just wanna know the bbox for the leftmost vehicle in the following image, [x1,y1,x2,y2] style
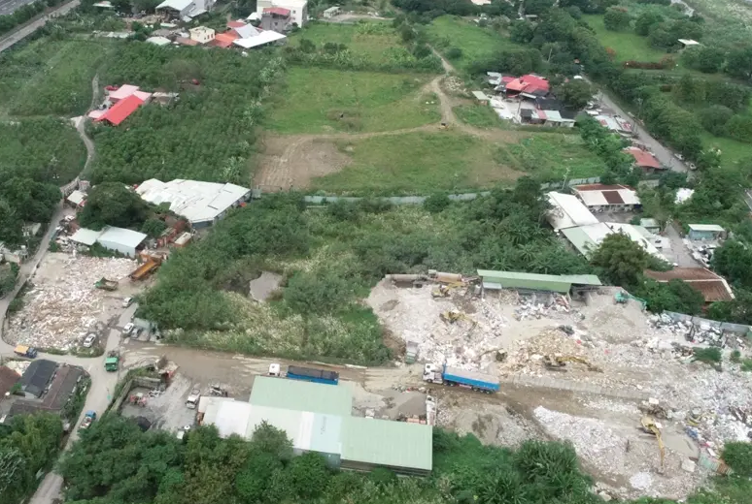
[7,340,40,358]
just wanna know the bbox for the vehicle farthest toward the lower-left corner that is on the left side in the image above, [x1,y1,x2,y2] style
[69,404,101,433]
